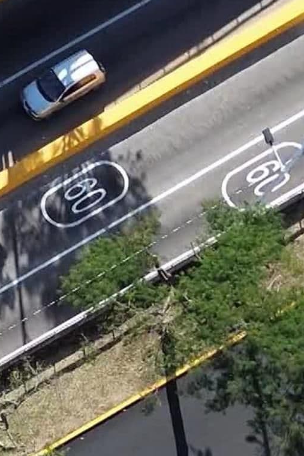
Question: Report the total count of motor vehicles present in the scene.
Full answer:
Just 1 motor vehicle appears in this view.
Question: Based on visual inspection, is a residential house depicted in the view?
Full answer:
No, no residential house is visible in the view.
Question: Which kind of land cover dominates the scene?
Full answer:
Most of the picture is covered by paved ground.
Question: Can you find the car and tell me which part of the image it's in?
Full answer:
Look in the top left portion of the view to spot the car.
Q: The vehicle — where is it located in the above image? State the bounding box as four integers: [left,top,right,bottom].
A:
[17,46,110,120]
